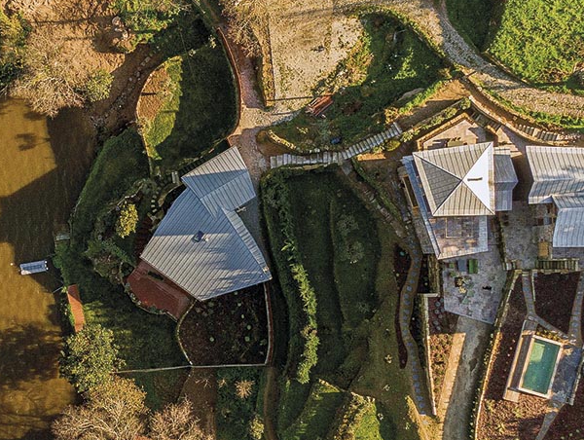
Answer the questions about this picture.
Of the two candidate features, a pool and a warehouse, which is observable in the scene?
pool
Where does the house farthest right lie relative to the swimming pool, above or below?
above it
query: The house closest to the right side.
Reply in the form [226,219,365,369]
[516,146,584,247]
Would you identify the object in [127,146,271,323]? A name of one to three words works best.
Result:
house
